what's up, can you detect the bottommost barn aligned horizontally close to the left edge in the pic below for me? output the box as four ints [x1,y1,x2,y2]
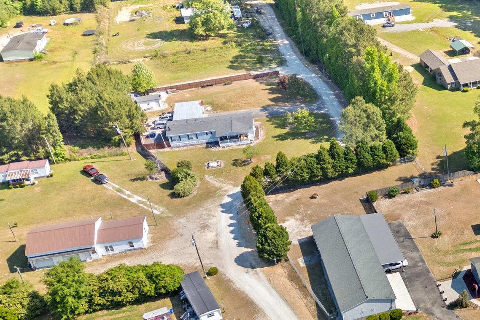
[24,215,148,274]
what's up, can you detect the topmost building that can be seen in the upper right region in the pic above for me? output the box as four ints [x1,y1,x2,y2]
[350,4,411,26]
